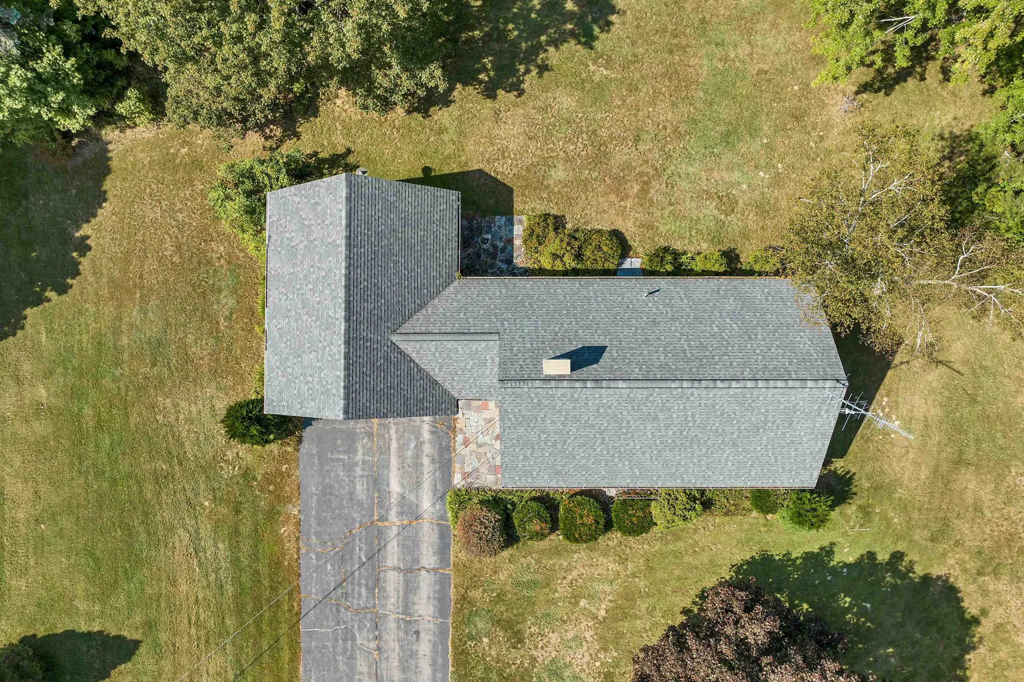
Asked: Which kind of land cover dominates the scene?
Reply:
grass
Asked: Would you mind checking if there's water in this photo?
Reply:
No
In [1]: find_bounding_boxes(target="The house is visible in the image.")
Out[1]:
[263,172,848,491]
